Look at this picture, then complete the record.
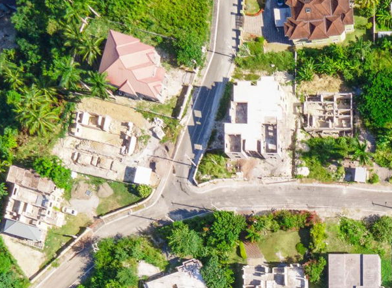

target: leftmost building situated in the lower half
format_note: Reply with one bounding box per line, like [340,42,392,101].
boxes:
[2,164,79,251]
